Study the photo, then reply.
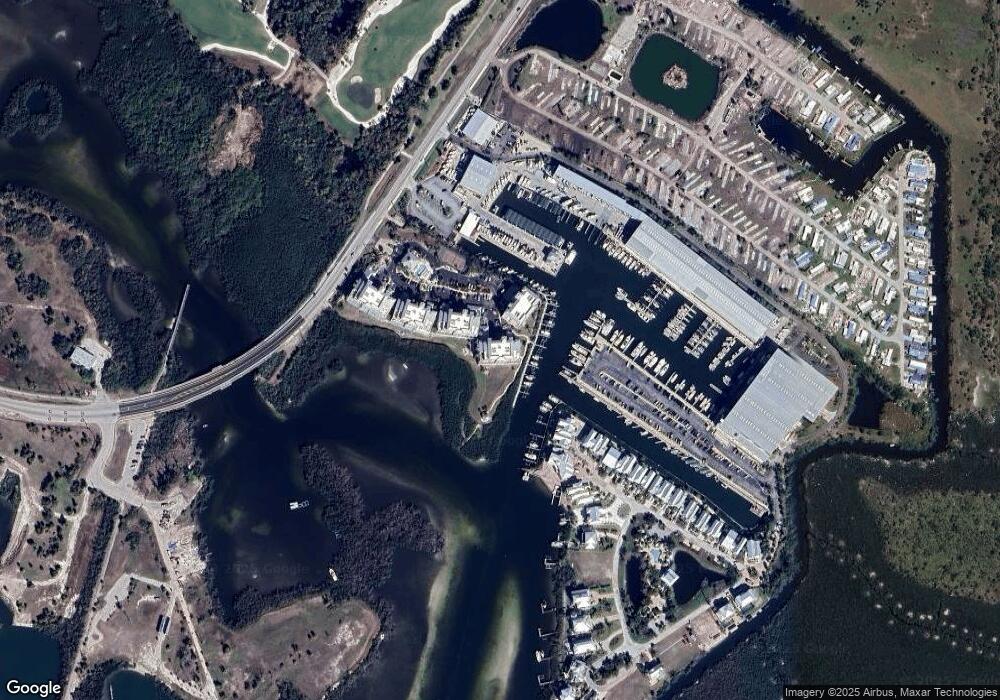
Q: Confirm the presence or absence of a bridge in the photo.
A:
Yes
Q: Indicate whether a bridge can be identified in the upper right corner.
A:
No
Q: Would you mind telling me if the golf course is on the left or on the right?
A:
left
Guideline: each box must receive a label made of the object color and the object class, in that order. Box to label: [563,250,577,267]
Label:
white boat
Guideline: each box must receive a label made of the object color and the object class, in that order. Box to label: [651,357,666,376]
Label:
white boat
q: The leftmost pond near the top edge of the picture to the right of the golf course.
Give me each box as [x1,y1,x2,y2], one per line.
[517,0,603,61]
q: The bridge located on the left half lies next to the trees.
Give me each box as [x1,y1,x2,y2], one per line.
[115,318,301,418]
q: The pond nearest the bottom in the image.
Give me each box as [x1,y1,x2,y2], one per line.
[104,670,174,700]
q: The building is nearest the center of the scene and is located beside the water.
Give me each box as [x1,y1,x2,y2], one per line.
[479,335,524,366]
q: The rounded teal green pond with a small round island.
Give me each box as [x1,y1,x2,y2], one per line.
[632,34,720,122]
